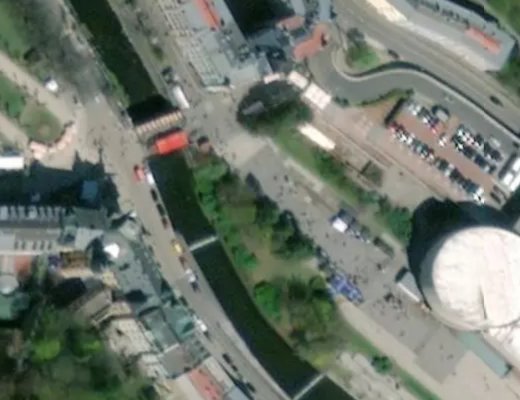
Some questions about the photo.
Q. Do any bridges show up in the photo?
Yes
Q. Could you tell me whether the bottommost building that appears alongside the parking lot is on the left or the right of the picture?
right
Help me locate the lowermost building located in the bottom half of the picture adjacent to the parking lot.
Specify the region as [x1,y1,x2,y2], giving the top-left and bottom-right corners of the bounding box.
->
[424,226,520,337]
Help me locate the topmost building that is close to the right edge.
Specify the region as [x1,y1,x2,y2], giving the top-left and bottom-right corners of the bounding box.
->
[390,0,517,76]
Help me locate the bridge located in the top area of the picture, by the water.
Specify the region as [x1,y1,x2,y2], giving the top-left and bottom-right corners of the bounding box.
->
[129,107,193,162]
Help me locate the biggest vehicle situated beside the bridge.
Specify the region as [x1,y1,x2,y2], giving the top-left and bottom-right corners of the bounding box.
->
[172,86,188,108]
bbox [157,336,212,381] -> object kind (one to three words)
house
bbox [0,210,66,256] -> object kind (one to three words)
building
